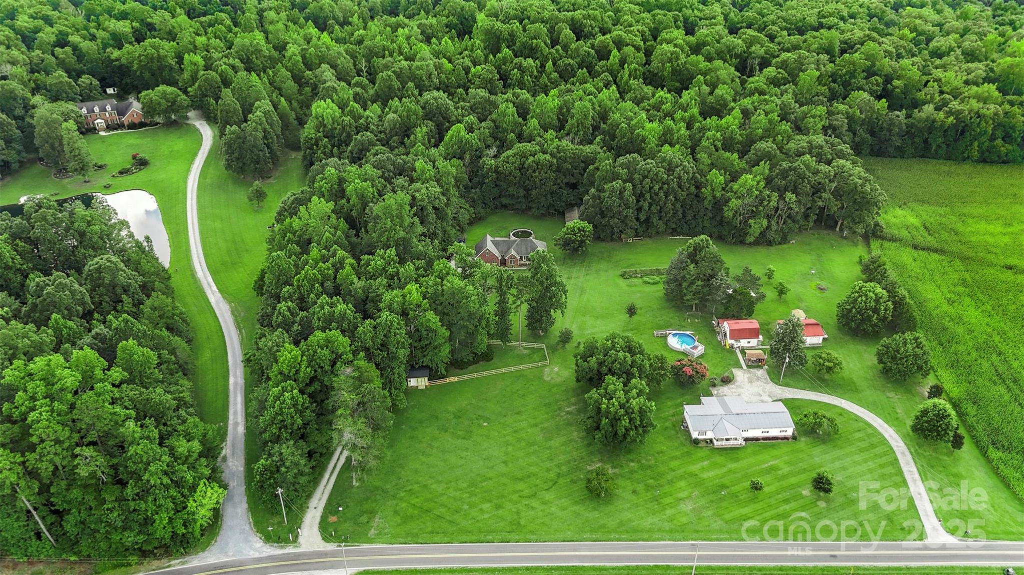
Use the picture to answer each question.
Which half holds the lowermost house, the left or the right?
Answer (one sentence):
It is on the right.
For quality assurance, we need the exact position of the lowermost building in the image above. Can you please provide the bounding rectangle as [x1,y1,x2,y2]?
[685,396,795,447]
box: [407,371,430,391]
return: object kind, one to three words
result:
shed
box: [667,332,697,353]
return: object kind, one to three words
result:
swimming pool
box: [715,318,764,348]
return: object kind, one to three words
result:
barn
